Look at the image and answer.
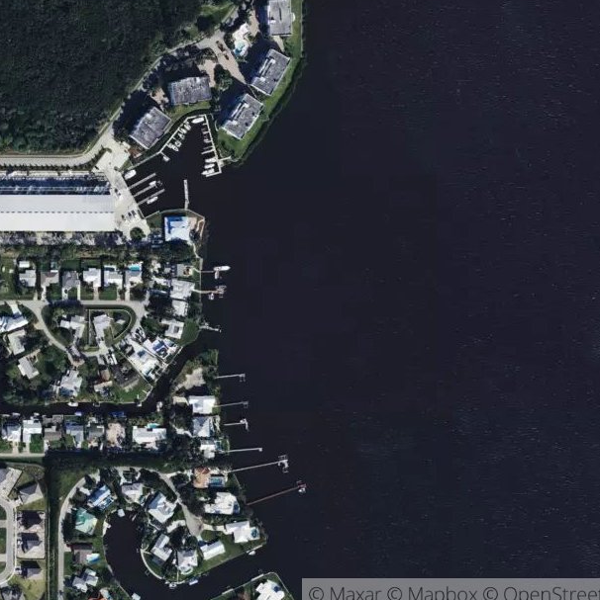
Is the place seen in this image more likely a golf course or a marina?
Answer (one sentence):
The area seen from above is a marina.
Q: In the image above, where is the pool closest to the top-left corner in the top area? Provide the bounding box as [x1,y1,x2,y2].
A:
[232,38,248,55]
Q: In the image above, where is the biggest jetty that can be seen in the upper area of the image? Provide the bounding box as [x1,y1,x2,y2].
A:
[128,114,223,178]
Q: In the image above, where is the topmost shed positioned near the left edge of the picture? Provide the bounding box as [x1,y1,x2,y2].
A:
[0,193,115,231]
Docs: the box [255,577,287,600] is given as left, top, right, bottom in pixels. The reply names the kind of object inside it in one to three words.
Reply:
house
